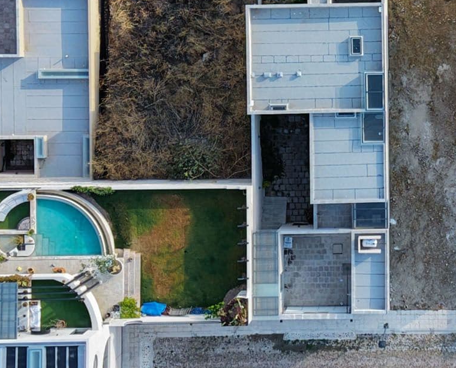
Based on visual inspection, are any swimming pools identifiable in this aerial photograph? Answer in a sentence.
Yes, I can see a swimming pool in this picture.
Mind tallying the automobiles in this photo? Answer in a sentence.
No automobiles are visible.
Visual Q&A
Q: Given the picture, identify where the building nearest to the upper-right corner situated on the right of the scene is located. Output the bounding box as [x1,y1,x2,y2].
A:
[246,0,392,311]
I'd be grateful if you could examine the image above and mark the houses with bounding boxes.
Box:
[246,0,392,311]
[0,284,113,368]
[0,0,103,182]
